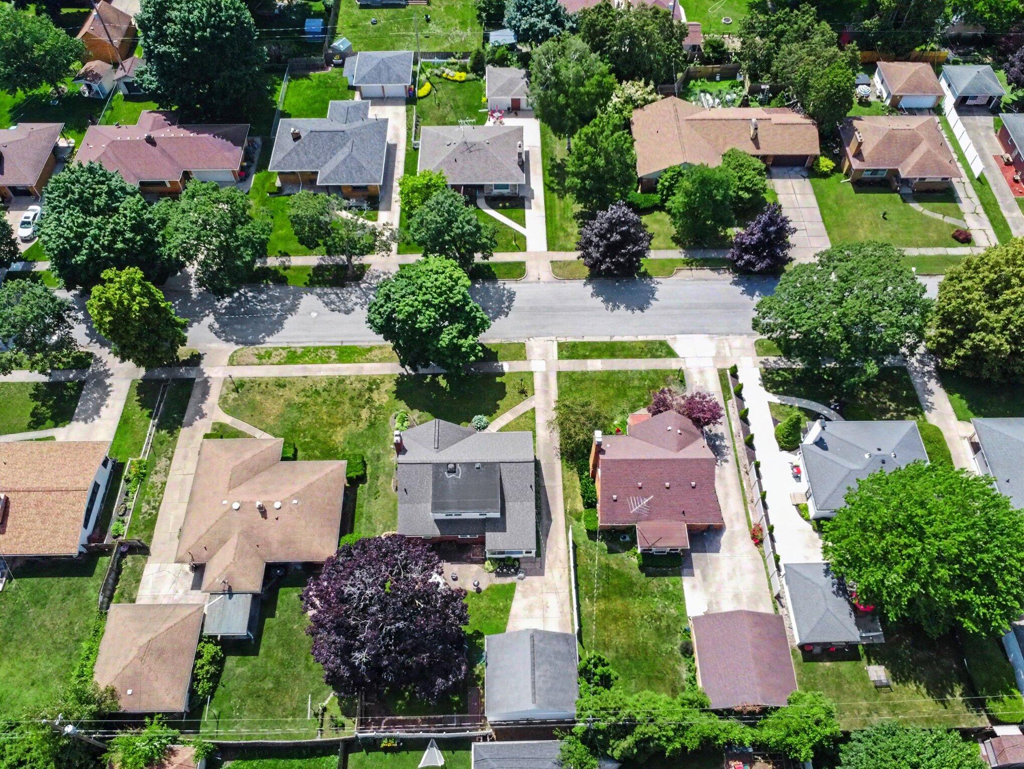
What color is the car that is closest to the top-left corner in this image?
white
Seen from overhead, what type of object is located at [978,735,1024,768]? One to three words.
shed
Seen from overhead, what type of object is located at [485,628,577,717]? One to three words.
building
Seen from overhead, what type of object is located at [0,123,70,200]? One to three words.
house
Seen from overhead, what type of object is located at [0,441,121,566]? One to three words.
house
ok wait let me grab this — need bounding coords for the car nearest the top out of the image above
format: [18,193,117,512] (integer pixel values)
[13,202,39,236]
